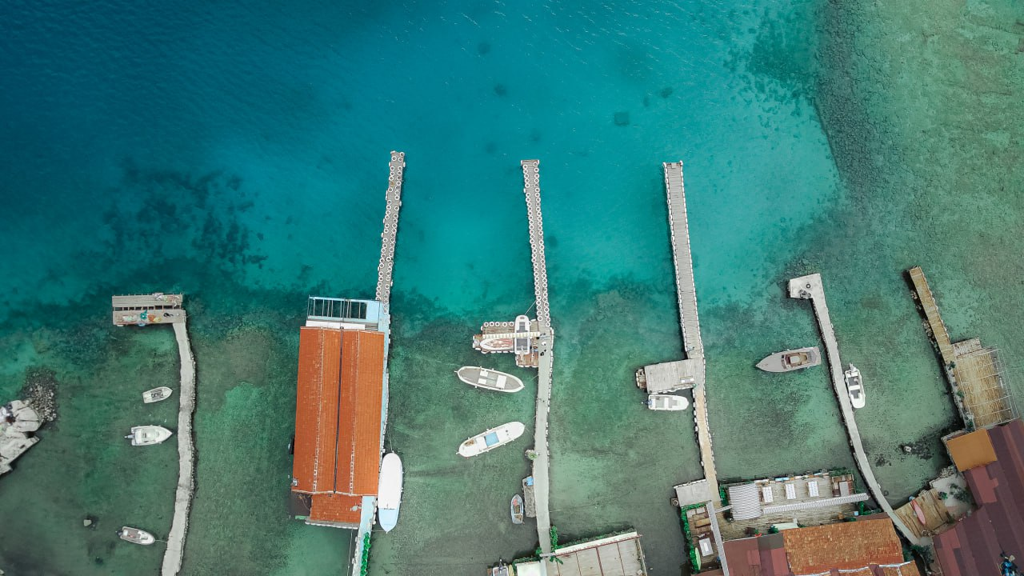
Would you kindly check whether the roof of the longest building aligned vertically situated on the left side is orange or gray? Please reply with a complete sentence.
The roof of the longest building aligned vertically situated on the left side looks orange in the image.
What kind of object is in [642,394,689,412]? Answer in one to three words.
boat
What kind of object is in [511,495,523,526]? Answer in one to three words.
boat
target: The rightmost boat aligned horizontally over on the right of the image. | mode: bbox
[755,344,823,371]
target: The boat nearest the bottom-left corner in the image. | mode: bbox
[116,524,156,545]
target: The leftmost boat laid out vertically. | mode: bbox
[376,453,405,533]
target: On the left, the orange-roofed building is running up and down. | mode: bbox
[291,327,386,528]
